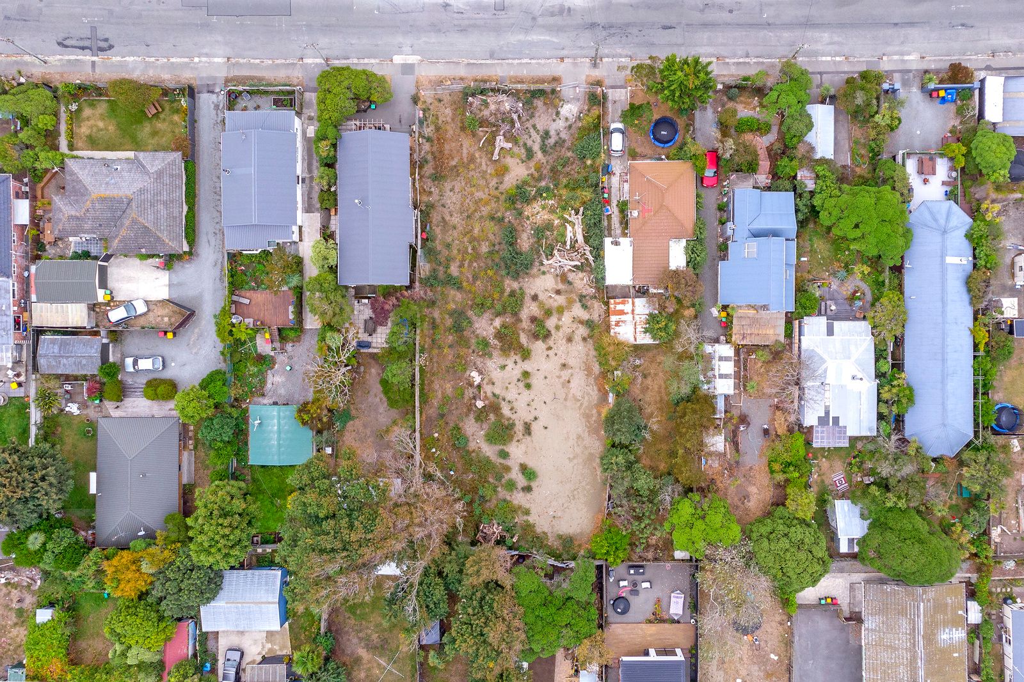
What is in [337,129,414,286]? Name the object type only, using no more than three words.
house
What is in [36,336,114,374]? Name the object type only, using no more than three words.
shed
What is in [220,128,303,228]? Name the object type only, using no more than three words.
house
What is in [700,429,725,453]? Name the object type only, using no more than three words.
shed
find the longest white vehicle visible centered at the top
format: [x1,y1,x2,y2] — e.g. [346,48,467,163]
[608,121,626,156]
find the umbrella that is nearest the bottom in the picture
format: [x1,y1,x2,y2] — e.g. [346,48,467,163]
[669,591,684,620]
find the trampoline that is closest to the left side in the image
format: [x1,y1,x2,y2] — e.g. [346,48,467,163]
[648,111,683,147]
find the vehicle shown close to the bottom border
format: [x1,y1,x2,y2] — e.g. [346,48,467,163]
[220,647,242,682]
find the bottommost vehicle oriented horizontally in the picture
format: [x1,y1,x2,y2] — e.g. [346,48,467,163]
[123,355,163,372]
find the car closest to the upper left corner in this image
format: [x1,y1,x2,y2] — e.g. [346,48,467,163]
[105,297,147,326]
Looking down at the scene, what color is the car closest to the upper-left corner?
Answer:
white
